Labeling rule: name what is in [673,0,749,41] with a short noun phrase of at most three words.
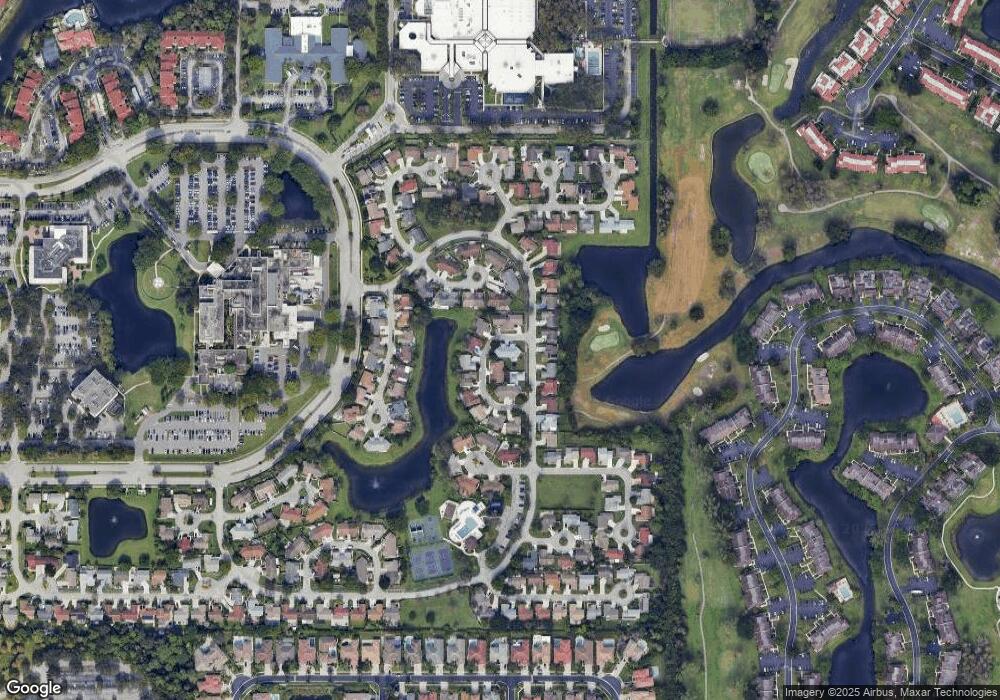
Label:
sports field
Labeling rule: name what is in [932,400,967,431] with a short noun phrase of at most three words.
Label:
swimming pool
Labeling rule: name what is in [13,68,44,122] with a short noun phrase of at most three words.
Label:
building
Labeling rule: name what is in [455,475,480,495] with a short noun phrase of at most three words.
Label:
house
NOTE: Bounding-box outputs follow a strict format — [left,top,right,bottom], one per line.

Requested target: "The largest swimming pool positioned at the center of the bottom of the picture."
[440,501,485,543]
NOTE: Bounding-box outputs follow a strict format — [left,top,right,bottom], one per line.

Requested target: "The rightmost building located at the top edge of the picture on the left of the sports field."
[399,0,574,103]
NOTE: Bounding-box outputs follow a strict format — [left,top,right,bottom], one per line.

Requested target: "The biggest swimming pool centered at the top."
[586,47,603,75]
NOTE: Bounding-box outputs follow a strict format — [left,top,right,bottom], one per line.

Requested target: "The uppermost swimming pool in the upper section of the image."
[62,9,87,28]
